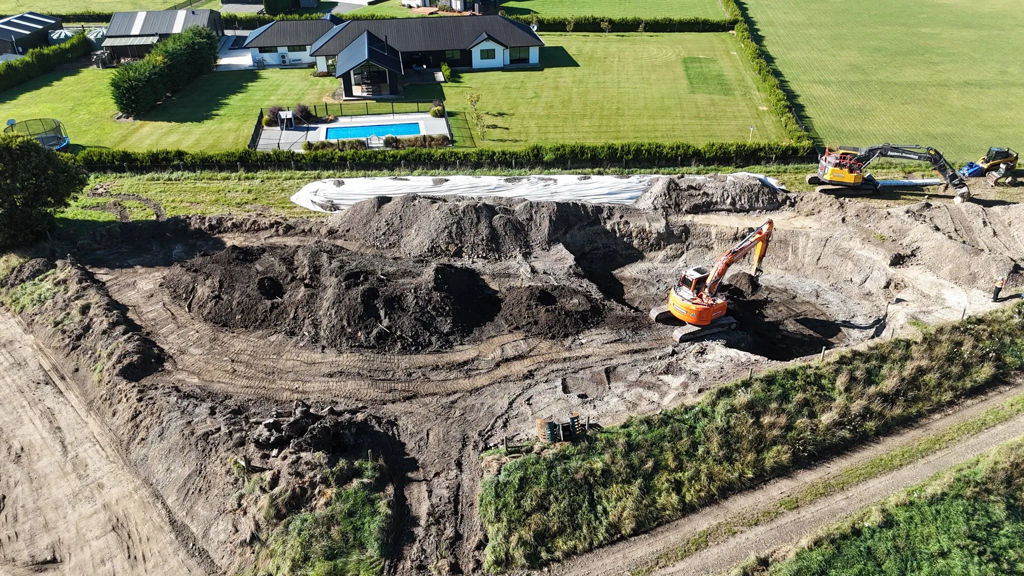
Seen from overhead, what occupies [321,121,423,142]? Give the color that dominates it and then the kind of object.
blue swimming pool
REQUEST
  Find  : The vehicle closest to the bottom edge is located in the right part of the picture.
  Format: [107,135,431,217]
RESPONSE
[650,212,779,347]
